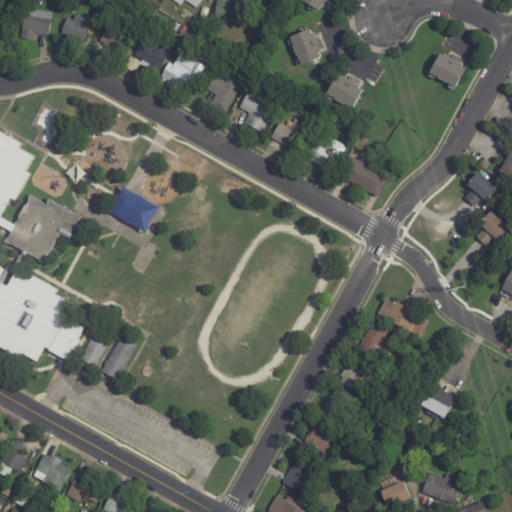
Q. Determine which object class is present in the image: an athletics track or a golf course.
athletics track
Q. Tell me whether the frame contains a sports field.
Yes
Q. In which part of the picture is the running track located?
center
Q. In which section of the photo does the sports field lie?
center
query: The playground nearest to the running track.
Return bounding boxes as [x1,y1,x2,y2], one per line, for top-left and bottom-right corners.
[143,174,176,204]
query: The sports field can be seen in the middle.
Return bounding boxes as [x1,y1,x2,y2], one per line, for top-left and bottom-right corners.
[208,230,318,377]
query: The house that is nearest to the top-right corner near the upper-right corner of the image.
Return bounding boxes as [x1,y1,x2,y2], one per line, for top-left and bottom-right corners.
[428,52,466,90]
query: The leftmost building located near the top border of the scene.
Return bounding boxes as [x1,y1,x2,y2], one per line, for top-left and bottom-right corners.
[22,11,53,40]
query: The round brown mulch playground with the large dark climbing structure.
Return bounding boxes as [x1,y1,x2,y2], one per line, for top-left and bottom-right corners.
[86,134,128,171]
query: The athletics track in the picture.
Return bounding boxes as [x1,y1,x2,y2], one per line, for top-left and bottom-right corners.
[200,224,324,386]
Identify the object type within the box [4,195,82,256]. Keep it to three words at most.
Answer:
building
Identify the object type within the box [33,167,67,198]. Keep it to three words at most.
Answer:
playground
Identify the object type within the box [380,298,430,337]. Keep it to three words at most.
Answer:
house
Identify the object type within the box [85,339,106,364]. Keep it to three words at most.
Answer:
shed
